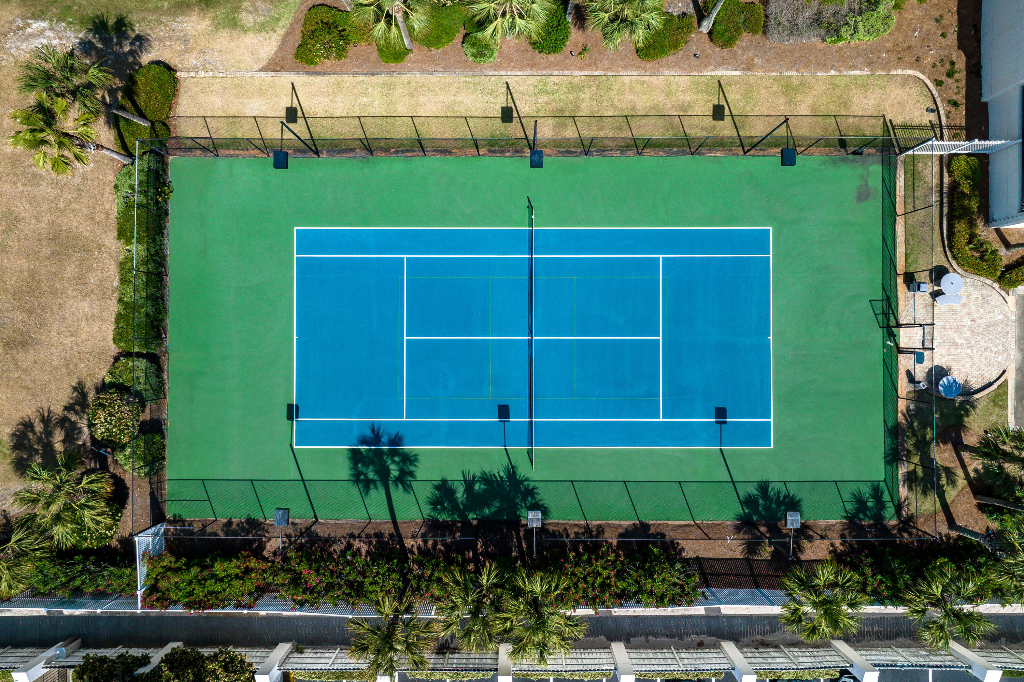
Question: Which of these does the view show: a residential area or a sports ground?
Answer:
sports ground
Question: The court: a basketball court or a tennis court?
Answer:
tennis court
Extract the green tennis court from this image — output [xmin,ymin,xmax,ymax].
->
[166,155,898,521]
